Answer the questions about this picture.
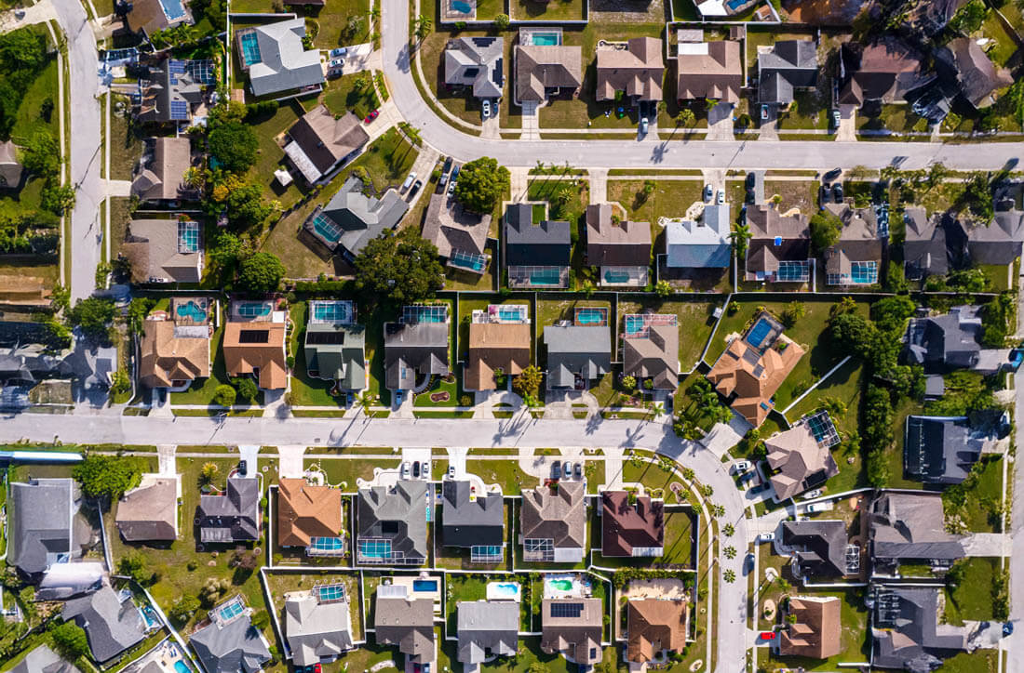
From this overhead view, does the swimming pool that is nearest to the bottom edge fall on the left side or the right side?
left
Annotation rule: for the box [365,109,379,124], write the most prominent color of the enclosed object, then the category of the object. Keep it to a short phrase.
red car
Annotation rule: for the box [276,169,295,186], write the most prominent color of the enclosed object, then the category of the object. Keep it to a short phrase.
white gazebo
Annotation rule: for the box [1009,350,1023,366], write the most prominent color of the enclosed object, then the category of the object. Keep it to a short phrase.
blue car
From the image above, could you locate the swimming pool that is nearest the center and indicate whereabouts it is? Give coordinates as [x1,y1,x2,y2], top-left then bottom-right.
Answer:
[472,305,527,324]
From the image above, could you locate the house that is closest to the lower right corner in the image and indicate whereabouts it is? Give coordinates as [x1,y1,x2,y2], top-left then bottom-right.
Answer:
[870,587,966,669]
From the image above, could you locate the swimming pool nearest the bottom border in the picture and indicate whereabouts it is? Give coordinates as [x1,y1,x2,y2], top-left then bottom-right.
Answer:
[145,637,201,673]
